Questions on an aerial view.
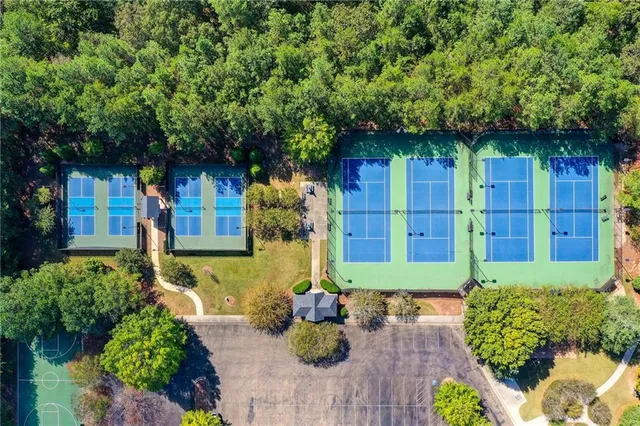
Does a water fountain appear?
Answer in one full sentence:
No, this view has no water fountain in it.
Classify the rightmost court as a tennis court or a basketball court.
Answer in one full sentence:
I'd identify the rightmost court as a tennis court.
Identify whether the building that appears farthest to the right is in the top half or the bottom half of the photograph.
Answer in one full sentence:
You can find the building that appears farthest to the right in the bottom half.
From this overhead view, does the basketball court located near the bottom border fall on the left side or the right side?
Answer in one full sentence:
The basketball court located near the bottom border sits on the left side.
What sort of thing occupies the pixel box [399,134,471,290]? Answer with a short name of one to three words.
tennis court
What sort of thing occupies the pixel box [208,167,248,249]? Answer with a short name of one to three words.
sports court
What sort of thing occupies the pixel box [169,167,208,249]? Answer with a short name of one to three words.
sports court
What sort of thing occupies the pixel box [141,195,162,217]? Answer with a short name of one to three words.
building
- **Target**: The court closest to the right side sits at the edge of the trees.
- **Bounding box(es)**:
[544,134,615,290]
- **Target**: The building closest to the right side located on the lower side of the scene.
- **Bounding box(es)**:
[293,292,337,322]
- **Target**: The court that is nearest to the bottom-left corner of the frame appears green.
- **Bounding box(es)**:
[16,319,86,426]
